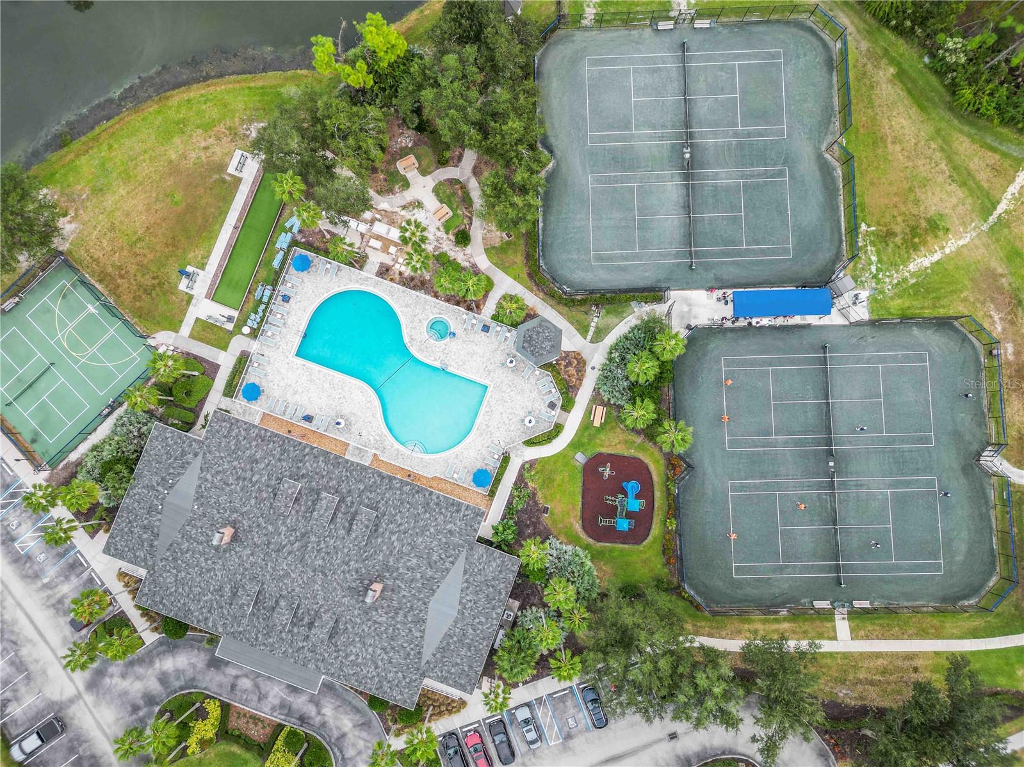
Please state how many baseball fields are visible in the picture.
zero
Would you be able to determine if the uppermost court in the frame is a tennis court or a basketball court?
tennis court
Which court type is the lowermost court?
tennis court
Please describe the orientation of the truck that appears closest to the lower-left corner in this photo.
at an angle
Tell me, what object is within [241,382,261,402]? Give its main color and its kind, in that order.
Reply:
blue umbrella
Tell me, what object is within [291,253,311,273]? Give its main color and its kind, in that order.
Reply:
blue umbrella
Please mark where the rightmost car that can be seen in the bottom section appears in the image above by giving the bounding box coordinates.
[581,684,610,732]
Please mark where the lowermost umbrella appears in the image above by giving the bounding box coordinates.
[472,468,492,488]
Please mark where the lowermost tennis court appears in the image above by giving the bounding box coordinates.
[682,459,998,608]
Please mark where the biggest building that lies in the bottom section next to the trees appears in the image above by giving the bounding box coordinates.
[103,409,520,711]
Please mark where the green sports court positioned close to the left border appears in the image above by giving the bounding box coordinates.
[0,257,150,470]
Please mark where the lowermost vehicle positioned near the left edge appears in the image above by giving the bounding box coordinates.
[14,715,65,759]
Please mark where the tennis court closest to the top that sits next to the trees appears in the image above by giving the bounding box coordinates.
[538,21,838,155]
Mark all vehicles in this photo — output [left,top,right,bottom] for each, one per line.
[14,715,65,759]
[464,729,492,767]
[488,717,517,764]
[581,684,610,732]
[440,732,468,767]
[514,704,542,751]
